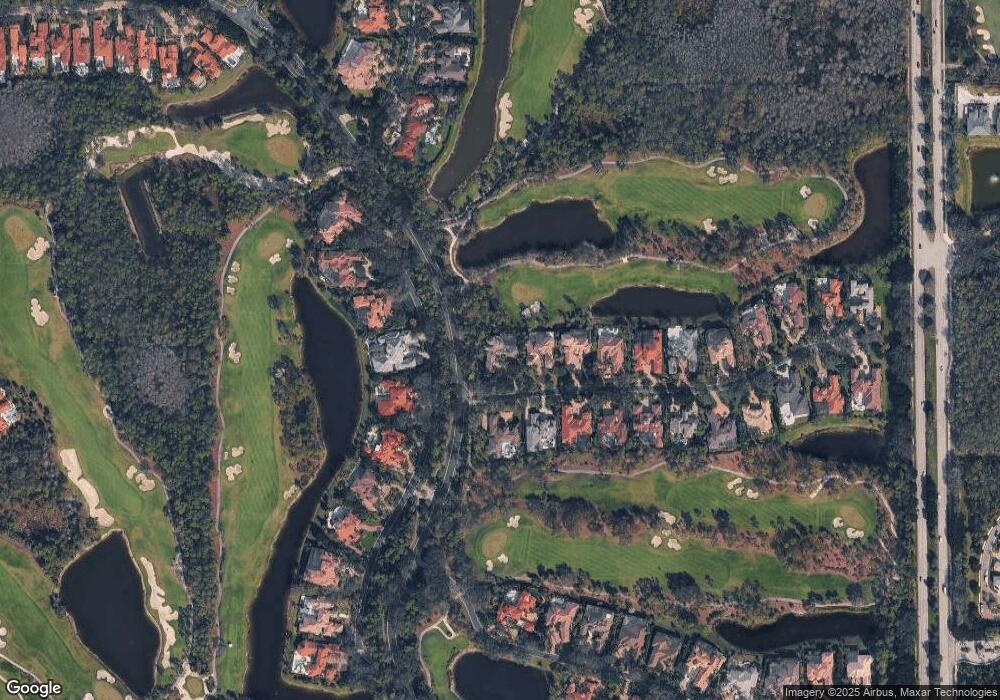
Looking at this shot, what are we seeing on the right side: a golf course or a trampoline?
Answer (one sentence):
The one visible on the right side is a golf course.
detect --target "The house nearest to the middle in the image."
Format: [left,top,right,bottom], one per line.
[484,335,519,373]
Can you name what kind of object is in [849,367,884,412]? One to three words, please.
house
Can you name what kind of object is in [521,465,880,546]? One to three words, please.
golf course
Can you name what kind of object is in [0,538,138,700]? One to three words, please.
golf course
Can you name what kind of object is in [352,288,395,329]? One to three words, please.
house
